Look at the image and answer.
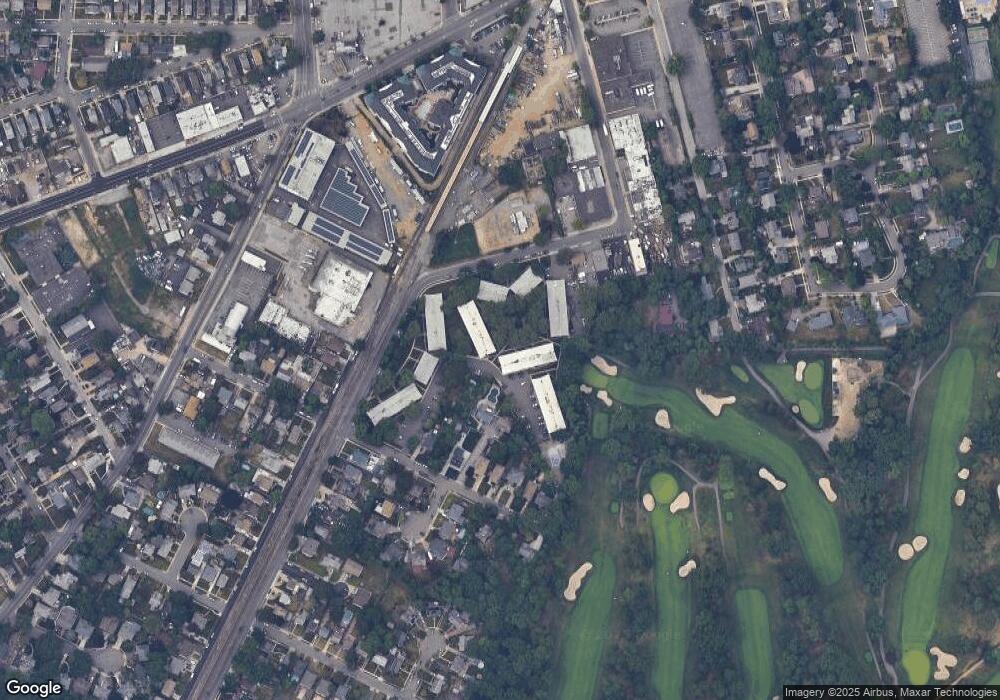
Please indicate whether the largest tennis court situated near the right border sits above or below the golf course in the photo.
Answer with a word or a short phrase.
above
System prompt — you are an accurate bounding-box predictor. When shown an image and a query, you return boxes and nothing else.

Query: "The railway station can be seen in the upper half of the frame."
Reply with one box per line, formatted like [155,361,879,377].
[425,45,521,232]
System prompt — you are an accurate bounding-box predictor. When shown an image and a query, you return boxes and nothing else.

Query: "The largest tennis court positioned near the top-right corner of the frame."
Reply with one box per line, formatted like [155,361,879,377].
[969,41,993,81]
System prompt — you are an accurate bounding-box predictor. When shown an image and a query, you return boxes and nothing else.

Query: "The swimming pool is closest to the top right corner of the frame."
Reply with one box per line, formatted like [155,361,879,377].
[946,121,964,134]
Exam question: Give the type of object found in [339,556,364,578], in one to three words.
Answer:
house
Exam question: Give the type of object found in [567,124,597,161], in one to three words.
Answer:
building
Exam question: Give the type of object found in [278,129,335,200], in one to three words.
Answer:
building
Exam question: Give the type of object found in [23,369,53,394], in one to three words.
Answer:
house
